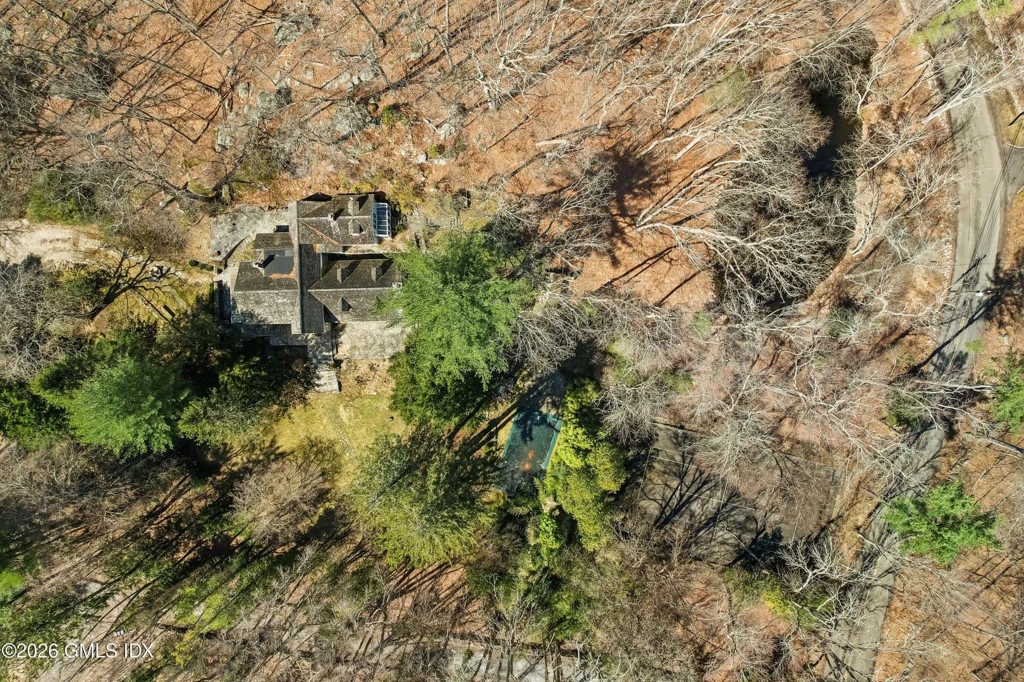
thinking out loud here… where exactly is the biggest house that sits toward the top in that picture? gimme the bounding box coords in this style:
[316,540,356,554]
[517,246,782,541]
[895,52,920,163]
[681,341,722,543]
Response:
[230,194,407,335]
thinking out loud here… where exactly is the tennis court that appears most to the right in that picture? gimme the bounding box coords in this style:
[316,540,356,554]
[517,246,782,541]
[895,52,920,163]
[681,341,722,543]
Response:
[617,420,829,581]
